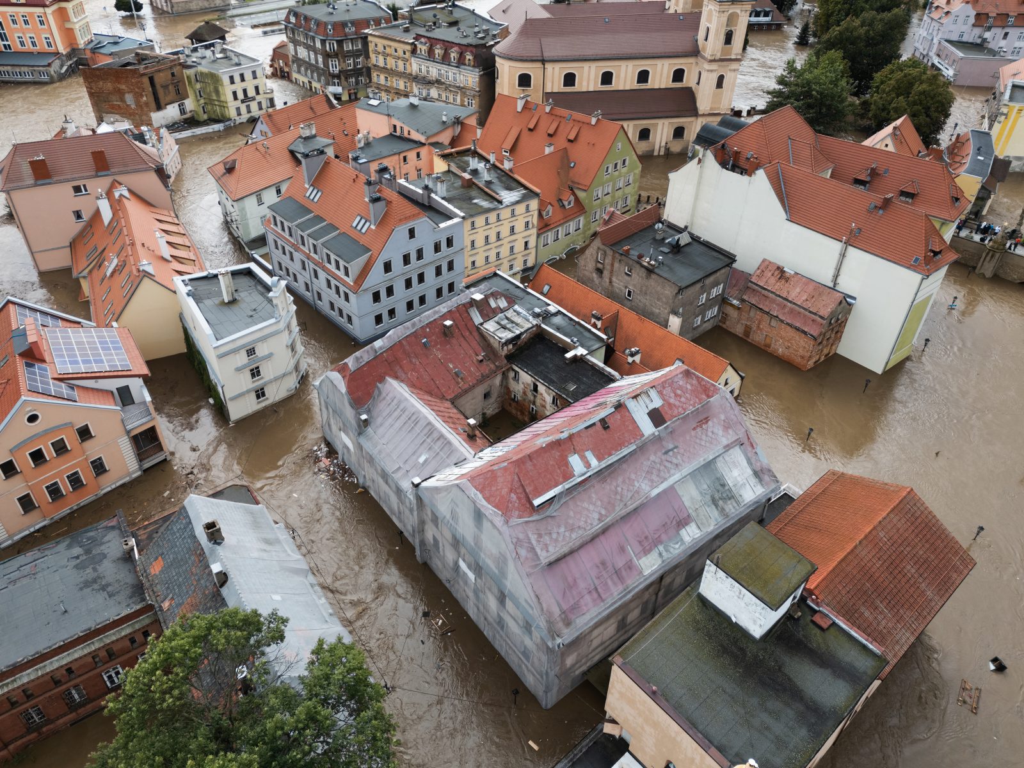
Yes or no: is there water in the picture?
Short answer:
Yes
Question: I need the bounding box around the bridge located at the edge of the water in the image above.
[950,215,1024,290]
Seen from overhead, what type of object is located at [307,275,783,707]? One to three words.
building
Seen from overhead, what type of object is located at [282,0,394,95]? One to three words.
building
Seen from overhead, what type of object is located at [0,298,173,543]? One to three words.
house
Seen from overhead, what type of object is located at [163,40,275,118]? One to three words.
house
